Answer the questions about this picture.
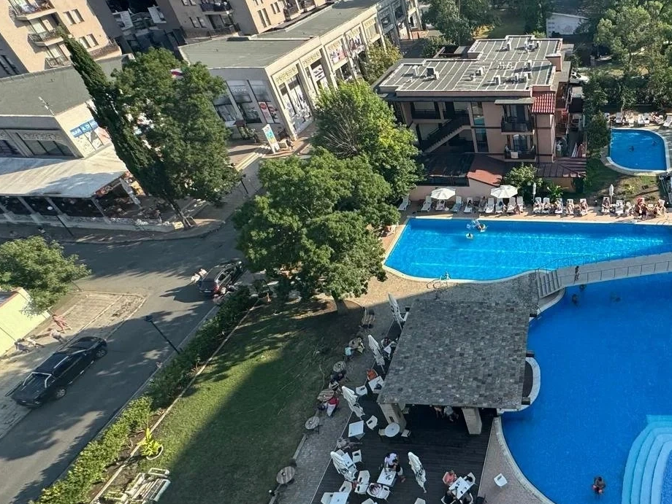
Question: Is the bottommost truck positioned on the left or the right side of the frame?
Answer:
left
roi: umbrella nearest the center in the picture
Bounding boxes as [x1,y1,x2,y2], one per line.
[392,307,405,333]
